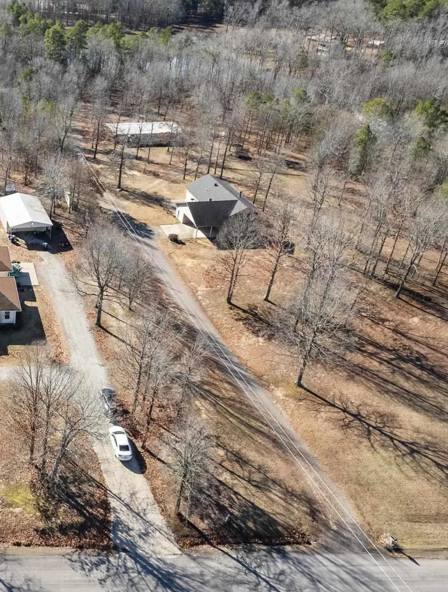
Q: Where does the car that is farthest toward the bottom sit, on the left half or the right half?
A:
left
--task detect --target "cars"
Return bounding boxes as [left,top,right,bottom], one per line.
[101,388,120,415]
[110,426,132,457]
